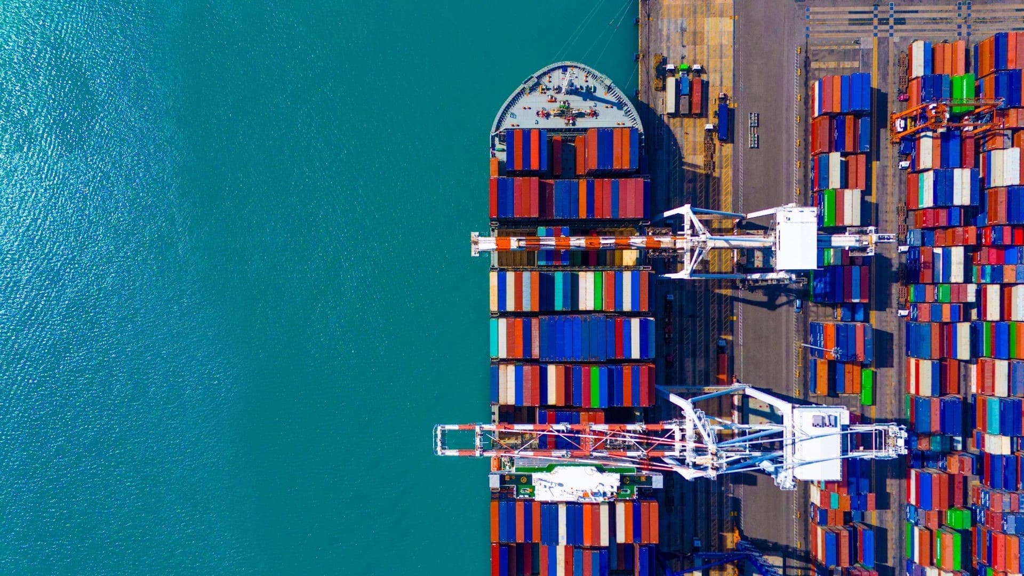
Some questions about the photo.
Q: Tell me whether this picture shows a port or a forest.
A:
port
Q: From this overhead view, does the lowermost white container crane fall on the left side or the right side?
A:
right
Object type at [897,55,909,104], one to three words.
vehicle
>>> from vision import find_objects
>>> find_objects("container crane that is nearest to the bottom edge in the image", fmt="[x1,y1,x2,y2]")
[650,530,767,576]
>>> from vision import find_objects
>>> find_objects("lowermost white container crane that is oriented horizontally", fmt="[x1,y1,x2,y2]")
[430,368,910,491]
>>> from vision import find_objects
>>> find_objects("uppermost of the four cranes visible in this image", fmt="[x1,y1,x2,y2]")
[892,96,1005,141]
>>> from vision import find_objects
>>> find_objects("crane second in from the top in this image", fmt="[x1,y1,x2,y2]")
[471,204,895,291]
